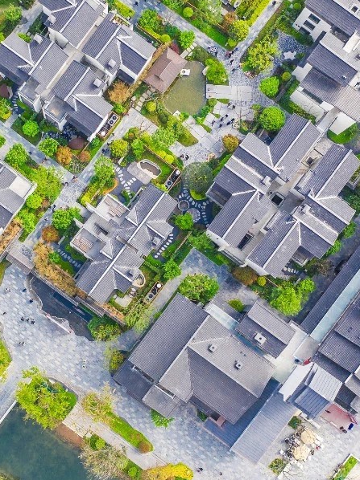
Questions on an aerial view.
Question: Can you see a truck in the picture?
No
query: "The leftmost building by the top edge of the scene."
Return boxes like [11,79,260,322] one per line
[0,0,159,141]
